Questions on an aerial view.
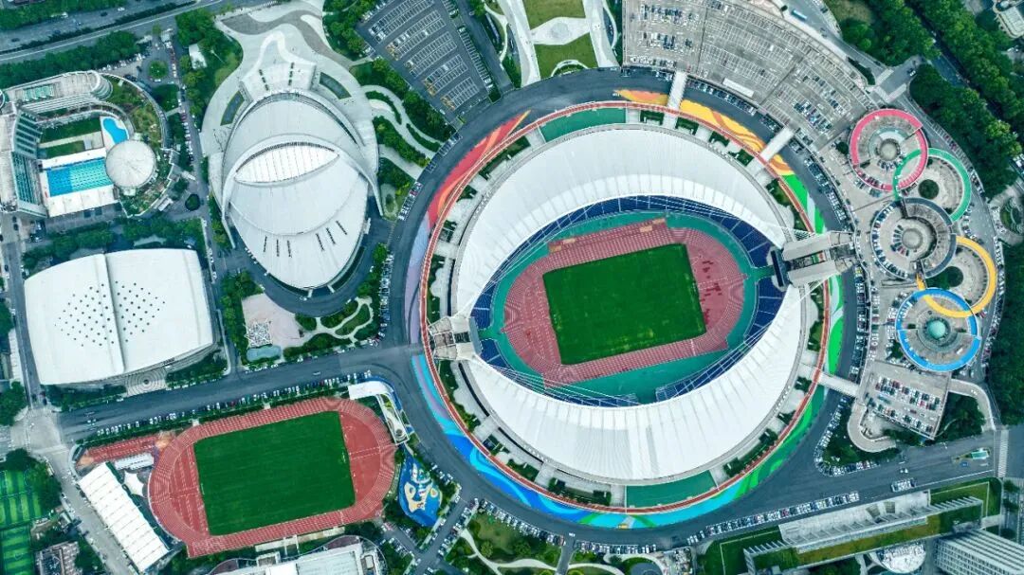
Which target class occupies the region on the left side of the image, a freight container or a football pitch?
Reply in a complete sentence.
Looking on the left side of the image, you will find a football pitch.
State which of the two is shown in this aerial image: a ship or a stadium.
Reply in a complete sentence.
Of the two, only a stadium appears.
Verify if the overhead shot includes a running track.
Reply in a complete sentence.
Yes, there is a running track in the image.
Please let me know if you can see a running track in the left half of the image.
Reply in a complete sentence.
Yes, looking in the left half of the image, one can make out a running track.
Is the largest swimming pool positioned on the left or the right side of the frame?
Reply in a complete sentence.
You can find the largest swimming pool on the left side of the picture.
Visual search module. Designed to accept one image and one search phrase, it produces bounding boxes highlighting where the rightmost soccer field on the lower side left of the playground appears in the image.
[194,411,355,536]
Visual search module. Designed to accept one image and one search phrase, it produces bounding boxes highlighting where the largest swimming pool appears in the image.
[41,148,119,219]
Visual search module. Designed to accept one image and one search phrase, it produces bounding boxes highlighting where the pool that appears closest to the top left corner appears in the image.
[100,115,130,147]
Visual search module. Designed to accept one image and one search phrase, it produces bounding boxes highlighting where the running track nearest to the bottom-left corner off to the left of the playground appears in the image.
[80,397,398,556]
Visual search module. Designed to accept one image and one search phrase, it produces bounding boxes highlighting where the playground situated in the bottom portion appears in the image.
[399,447,442,527]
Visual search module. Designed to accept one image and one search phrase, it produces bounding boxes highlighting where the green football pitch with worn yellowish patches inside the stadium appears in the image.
[544,244,707,364]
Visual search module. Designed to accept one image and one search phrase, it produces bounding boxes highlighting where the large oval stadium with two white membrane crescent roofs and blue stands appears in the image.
[422,106,853,511]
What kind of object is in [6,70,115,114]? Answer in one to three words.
building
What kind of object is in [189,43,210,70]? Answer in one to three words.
building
